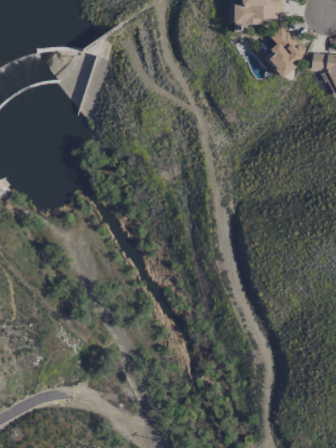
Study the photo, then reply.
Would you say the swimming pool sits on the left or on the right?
right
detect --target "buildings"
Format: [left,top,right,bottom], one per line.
[235,0,284,25]
[327,54,336,85]
[312,53,324,70]
[270,26,308,80]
